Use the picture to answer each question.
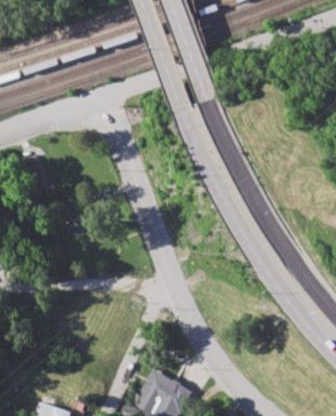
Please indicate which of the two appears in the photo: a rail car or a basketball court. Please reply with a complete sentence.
It is a rail car that can be seen here.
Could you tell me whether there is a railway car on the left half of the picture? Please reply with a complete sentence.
Yes, a railway car shows up on the left half of the picture.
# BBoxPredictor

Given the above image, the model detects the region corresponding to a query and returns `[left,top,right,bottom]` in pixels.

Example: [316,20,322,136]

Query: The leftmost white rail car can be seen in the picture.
[0,70,22,84]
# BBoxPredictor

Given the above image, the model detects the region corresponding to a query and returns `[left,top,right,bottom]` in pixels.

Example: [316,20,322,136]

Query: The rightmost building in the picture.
[137,370,191,416]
